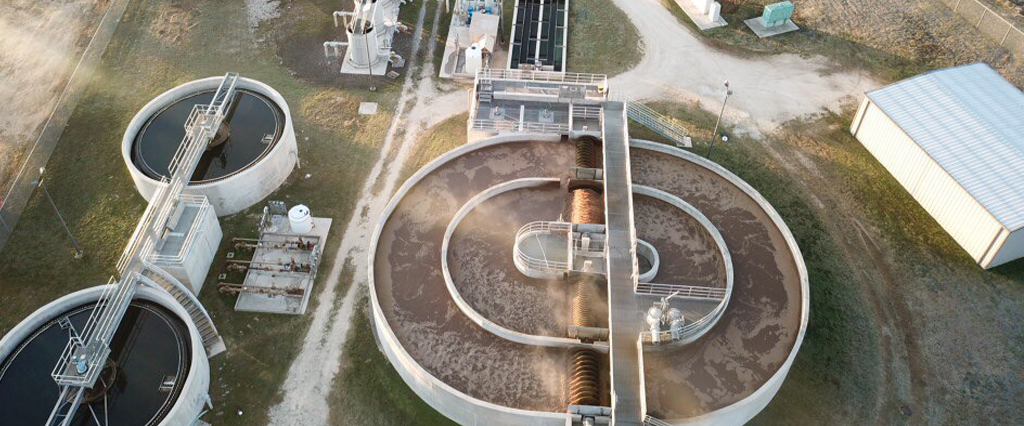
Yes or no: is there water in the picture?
Yes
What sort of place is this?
industrial area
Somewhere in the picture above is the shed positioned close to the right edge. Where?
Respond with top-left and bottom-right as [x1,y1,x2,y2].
[849,57,1024,270]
